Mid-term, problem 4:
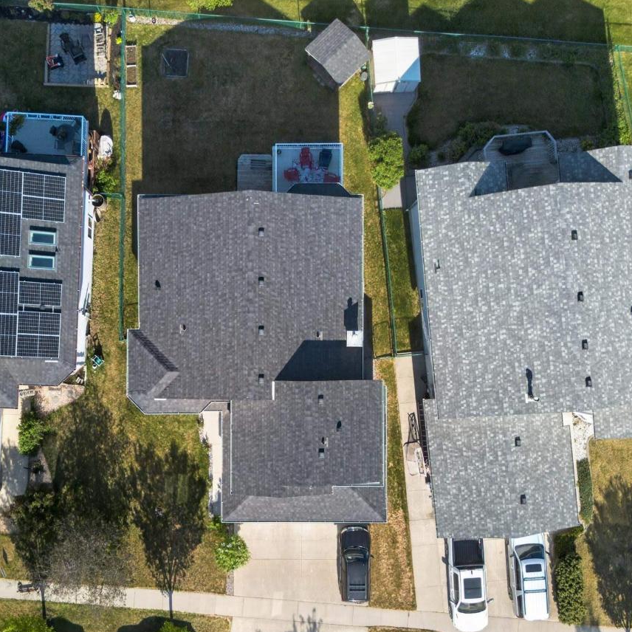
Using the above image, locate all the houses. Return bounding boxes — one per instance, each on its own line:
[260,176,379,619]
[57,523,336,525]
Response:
[406,145,632,537]
[126,181,388,522]
[0,152,98,432]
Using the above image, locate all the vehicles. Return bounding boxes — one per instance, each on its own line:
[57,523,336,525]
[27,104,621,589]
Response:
[337,525,373,602]
[510,533,551,622]
[450,537,490,630]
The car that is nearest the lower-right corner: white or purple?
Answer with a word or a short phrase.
white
